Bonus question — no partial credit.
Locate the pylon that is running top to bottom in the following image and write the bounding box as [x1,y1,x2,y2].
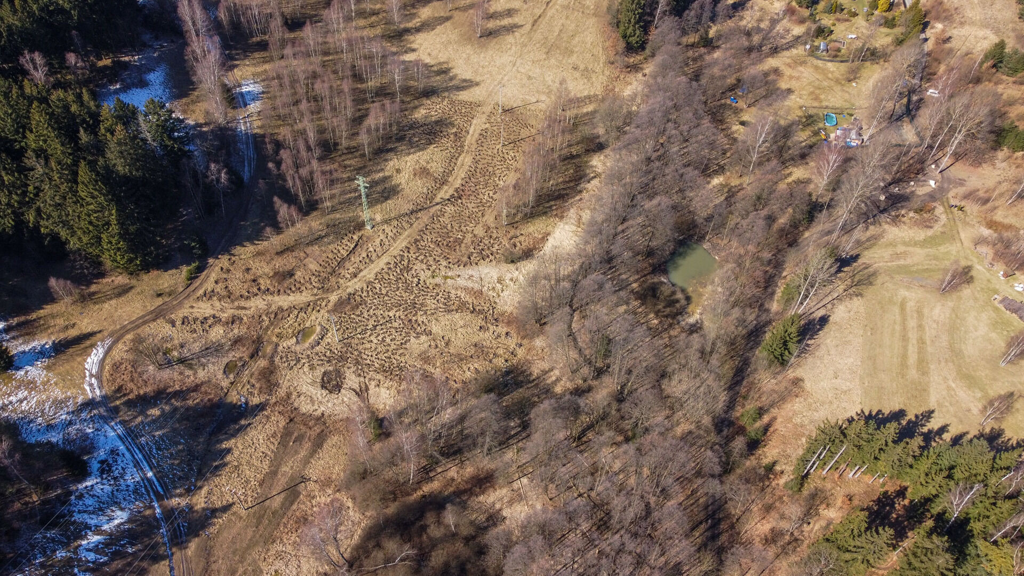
[355,177,374,232]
